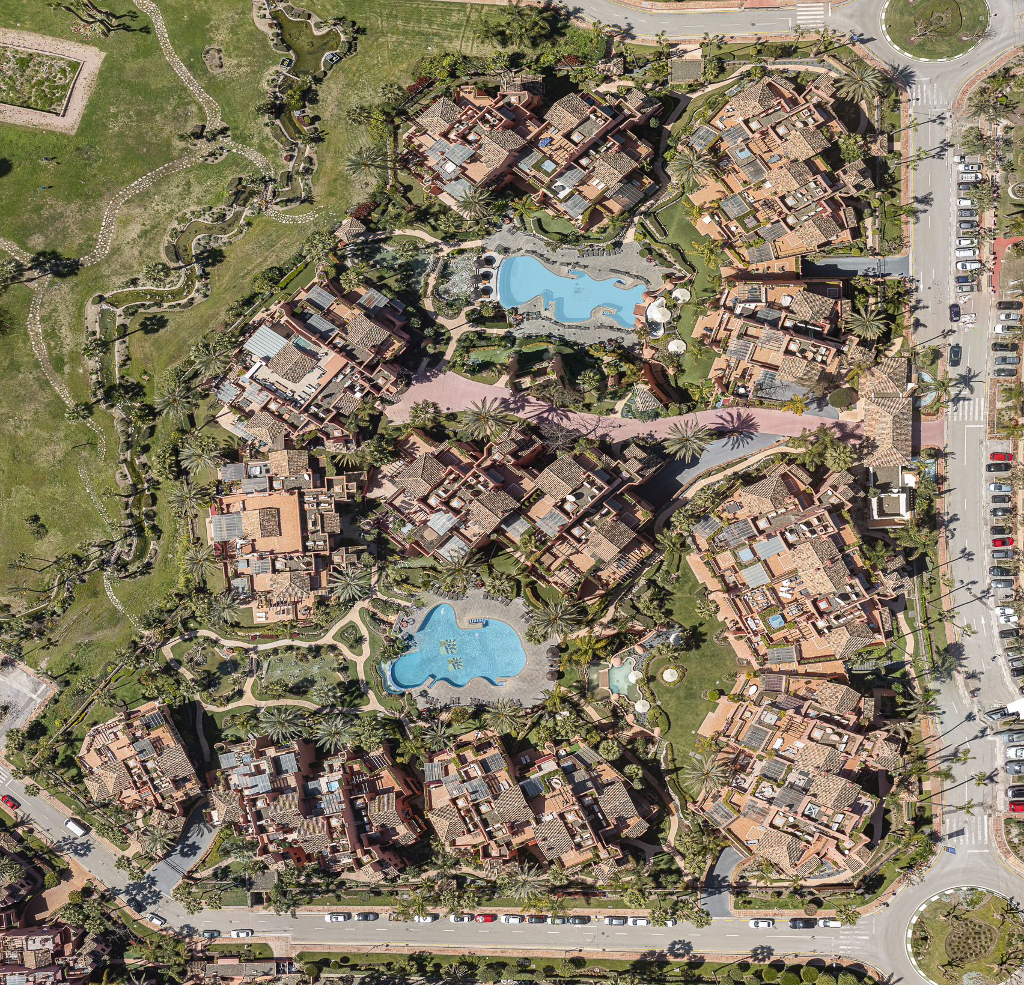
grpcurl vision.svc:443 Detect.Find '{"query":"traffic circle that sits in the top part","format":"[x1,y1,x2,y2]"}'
[879,0,992,63]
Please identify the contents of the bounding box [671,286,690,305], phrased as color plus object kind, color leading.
white umbrella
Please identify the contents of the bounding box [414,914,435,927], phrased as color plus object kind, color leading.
white vehicle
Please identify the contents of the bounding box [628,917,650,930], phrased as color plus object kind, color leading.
white vehicle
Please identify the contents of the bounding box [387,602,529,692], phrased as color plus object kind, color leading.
blue swimming pool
